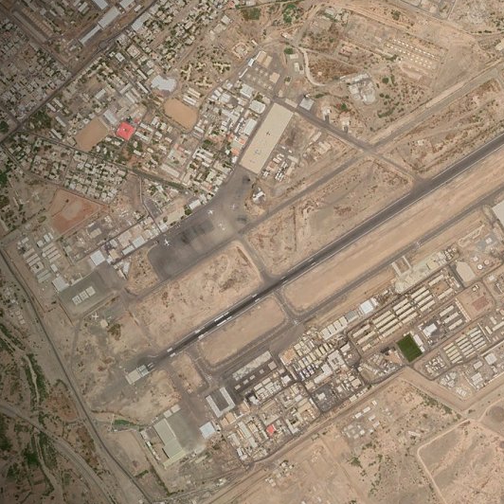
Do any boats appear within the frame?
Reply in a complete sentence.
No, no boat is visible in the view.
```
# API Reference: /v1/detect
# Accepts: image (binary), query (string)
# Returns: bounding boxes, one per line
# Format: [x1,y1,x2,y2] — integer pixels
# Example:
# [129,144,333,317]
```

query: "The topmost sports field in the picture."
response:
[164,98,197,129]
